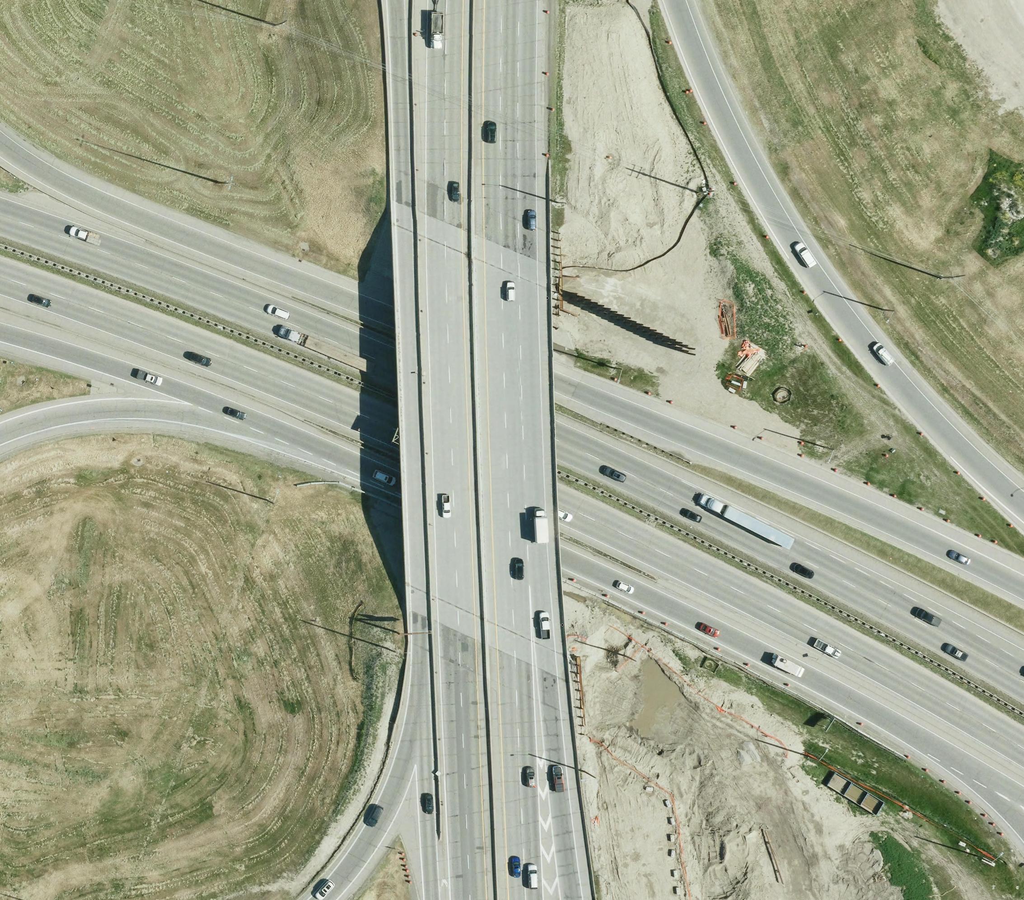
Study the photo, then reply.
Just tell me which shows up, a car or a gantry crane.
car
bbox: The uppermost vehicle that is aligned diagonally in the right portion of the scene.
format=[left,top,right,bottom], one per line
[796,243,815,267]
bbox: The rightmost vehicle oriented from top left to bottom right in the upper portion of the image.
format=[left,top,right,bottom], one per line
[874,344,894,365]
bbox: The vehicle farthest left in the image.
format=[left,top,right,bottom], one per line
[29,294,52,307]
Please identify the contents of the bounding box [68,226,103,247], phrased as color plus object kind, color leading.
white truck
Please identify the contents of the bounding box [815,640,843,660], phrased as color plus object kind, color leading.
white vehicle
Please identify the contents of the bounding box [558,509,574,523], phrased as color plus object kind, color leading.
white car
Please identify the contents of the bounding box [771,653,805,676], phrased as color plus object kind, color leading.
white camper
